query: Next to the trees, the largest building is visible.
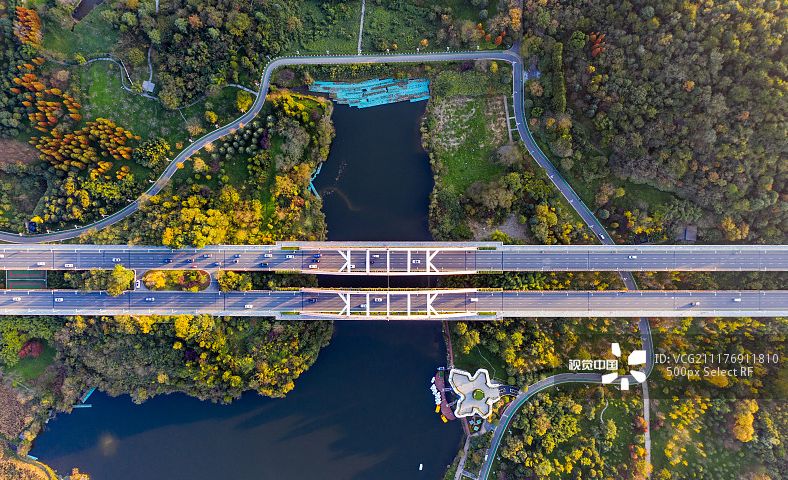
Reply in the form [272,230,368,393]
[449,368,520,418]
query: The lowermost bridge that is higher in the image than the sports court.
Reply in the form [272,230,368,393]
[0,242,788,274]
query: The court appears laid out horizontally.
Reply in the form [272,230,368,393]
[4,271,48,290]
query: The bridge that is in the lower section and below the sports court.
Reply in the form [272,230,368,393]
[0,288,788,320]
